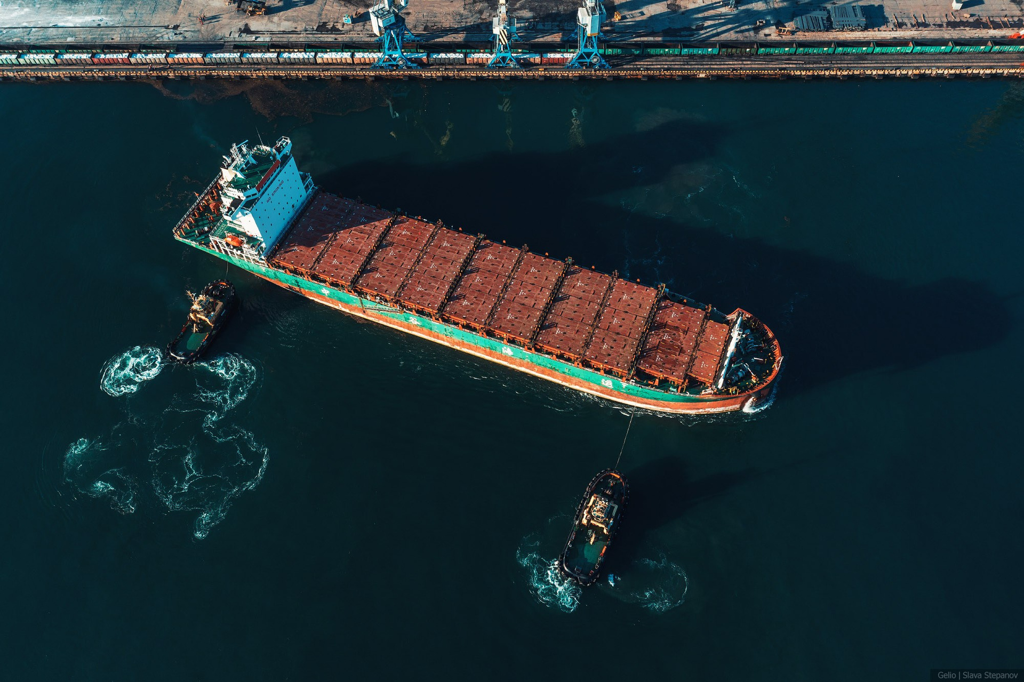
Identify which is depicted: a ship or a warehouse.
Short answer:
ship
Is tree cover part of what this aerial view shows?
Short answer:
No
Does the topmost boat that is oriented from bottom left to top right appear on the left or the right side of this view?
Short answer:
left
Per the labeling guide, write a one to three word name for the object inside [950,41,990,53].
rail car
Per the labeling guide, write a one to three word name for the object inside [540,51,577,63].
rail car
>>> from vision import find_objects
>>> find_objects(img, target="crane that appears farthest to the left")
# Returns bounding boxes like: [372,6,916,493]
[365,0,417,69]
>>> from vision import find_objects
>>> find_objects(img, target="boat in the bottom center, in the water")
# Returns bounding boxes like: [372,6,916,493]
[560,468,631,587]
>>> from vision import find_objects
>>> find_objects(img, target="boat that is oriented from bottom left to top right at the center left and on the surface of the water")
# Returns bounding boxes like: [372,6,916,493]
[166,276,236,363]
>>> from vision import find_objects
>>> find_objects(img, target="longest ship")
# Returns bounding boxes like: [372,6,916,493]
[173,126,785,413]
